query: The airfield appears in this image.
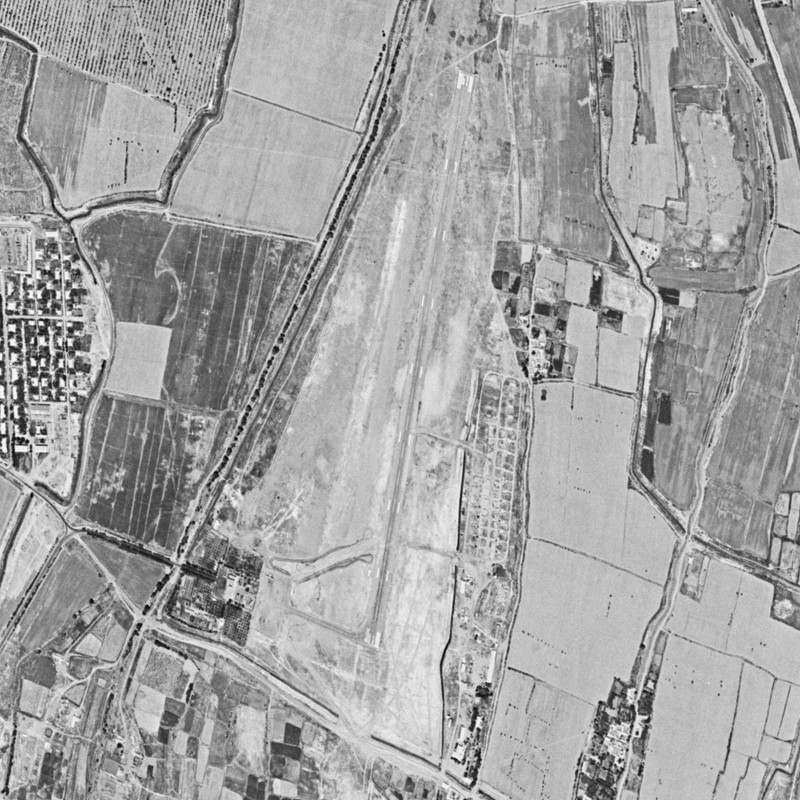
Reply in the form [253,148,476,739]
[243,0,521,753]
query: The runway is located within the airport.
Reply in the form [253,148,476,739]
[364,71,475,648]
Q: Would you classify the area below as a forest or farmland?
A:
farmland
